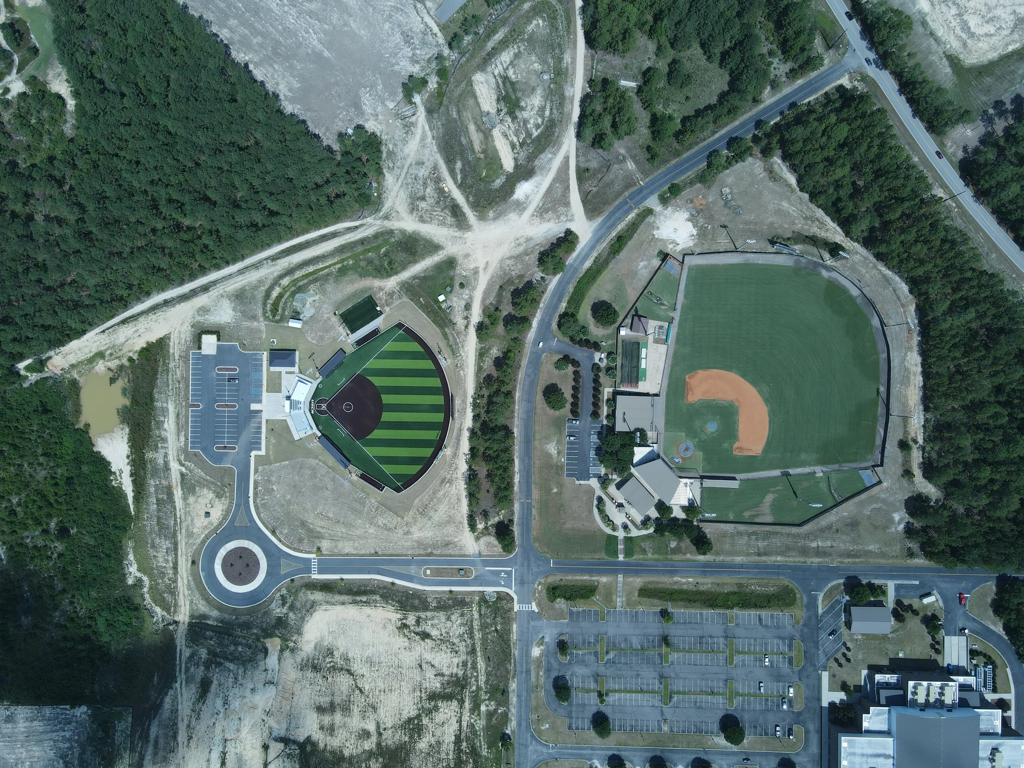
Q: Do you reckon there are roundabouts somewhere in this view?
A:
Yes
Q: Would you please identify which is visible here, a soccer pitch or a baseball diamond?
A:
baseball diamond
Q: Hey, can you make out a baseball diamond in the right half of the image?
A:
Yes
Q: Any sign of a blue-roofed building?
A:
Yes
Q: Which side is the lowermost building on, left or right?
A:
right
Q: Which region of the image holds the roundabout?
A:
bottom left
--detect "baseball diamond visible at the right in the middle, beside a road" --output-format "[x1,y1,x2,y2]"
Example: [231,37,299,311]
[660,253,889,480]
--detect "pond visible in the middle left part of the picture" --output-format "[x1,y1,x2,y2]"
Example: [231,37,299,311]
[76,369,130,444]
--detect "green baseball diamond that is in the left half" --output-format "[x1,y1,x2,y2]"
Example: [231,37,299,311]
[309,322,450,493]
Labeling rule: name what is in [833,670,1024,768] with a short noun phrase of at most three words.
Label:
building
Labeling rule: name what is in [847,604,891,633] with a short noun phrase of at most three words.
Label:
shed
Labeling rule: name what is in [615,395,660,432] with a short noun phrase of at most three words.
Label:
building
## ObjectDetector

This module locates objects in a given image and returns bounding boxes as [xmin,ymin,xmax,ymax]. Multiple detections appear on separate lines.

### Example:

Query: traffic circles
[213,540,267,594]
